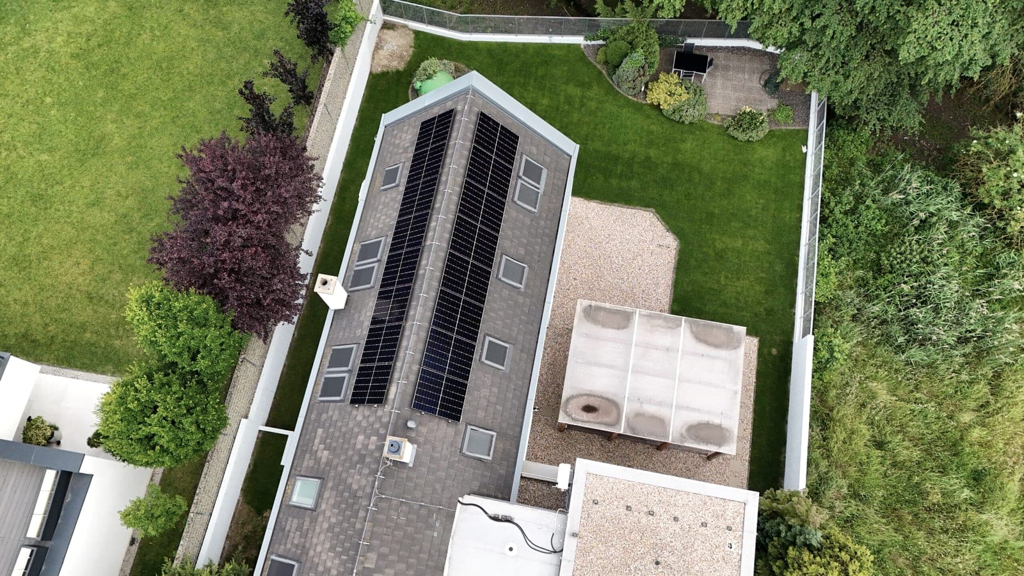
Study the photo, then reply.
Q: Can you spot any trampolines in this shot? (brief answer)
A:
No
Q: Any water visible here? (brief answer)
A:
No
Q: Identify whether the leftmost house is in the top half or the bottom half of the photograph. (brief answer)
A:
bottom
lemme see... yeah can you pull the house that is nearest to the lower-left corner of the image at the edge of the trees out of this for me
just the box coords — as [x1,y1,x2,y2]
[0,437,153,576]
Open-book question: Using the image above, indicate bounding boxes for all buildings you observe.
[0,437,153,576]
[255,68,581,576]
[559,458,759,576]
